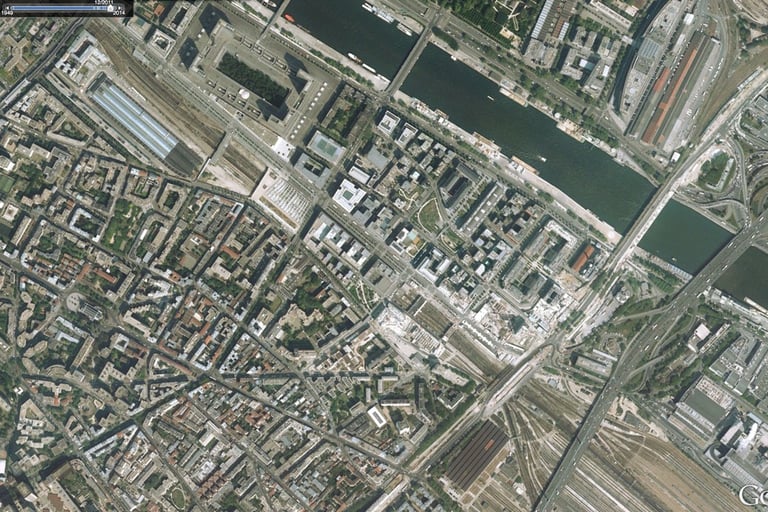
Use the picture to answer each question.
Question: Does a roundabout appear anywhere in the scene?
No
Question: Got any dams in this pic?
No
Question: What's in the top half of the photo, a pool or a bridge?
bridge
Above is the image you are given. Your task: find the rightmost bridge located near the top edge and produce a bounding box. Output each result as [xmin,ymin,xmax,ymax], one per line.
[383,18,440,106]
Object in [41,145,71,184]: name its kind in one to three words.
building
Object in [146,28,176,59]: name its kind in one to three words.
building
